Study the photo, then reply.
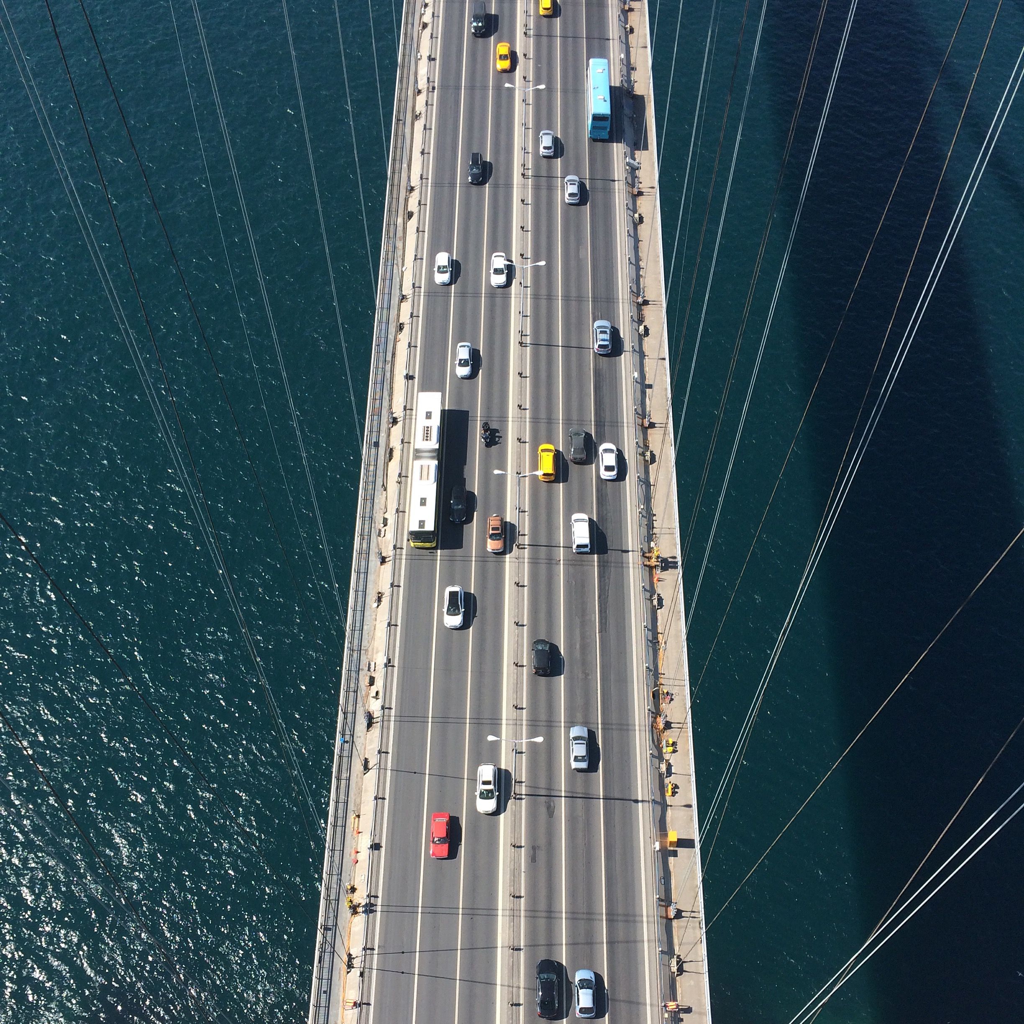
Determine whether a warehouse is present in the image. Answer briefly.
No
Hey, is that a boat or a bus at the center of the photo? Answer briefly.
bus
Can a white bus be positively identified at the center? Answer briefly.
Yes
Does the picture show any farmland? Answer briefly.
No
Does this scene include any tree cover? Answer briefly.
No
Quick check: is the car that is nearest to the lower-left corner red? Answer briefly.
Yes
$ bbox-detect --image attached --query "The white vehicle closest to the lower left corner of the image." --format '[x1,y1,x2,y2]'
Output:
[474,762,498,815]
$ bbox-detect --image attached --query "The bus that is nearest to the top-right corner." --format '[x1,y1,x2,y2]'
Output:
[587,58,611,140]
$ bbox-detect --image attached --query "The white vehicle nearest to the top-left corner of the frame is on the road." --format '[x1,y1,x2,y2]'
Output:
[433,255,451,287]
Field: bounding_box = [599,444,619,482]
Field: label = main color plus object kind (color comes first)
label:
white car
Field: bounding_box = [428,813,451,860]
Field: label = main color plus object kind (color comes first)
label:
red car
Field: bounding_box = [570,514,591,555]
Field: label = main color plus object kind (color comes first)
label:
white vehicle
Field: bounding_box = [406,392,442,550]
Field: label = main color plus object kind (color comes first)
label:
white bus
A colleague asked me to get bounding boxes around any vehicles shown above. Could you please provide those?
[469,4,486,37]
[537,446,557,483]
[467,154,484,185]
[428,813,451,860]
[496,45,511,73]
[539,0,553,17]
[531,637,552,677]
[587,58,611,140]
[454,343,473,380]
[564,176,581,205]
[485,511,506,554]
[569,726,591,774]
[599,444,619,482]
[442,585,465,630]
[433,255,451,287]
[593,321,613,356]
[568,428,588,465]
[534,960,560,1020]
[573,968,598,1020]
[474,762,498,815]
[570,514,591,555]
[406,392,442,550]
[539,132,556,158]
[489,255,508,289]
